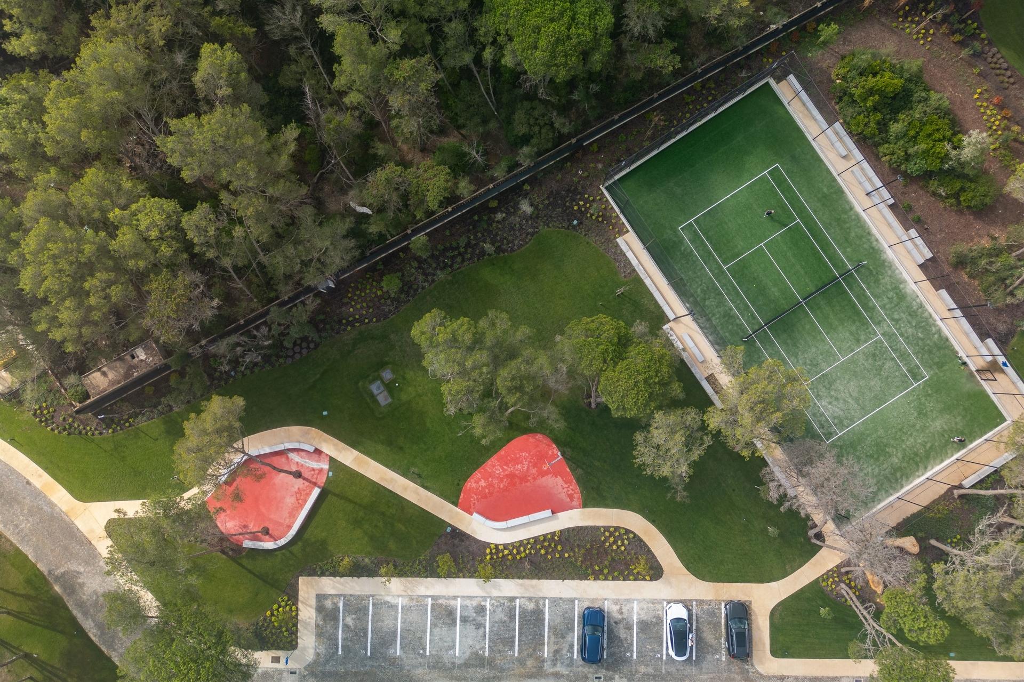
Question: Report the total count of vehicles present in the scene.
3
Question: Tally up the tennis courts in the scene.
1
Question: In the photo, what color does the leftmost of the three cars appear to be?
blue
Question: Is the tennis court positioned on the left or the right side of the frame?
right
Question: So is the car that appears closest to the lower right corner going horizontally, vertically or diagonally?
vertically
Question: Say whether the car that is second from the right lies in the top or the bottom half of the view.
bottom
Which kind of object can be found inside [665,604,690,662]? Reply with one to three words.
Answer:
car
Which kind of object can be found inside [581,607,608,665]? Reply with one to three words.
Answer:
car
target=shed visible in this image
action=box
[81,340,172,399]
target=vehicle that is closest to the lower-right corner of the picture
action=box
[723,602,750,660]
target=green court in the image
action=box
[608,73,1019,541]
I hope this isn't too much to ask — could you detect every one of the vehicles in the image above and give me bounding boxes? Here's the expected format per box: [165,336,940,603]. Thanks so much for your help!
[665,604,690,662]
[723,602,750,660]
[581,607,608,665]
